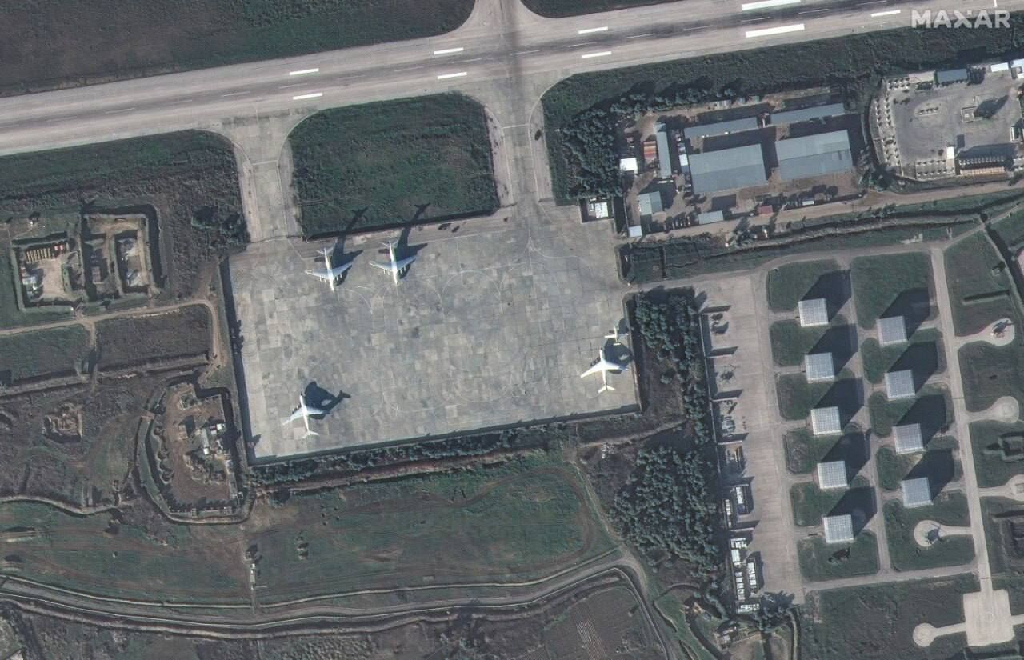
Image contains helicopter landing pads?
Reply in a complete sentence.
Yes, I can see a helicopter landing pad in this picture.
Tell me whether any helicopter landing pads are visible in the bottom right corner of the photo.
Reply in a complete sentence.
Yes, a helicopter landing pad is visible in the bottom right corner of the photo.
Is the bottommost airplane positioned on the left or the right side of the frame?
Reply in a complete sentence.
It is on the left.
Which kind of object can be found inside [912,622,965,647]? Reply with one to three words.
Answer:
helipad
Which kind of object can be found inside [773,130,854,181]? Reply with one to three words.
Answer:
building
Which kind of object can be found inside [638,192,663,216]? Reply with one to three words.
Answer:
shed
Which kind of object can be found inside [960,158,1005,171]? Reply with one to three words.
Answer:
building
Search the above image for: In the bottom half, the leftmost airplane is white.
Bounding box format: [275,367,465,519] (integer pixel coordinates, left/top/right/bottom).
[282,395,330,436]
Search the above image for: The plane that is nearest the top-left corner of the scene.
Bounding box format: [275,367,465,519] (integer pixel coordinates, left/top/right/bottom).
[304,246,352,292]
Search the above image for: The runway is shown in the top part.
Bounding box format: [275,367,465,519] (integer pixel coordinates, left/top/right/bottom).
[0,0,1024,156]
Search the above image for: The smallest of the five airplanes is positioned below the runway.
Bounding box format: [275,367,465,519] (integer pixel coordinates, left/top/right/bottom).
[604,327,628,343]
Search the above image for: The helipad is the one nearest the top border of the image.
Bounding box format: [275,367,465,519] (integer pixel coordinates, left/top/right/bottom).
[957,318,1016,345]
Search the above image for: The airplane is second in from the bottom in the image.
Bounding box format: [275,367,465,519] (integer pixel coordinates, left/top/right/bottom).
[581,349,629,391]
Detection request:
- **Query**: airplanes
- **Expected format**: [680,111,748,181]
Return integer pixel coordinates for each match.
[368,241,416,286]
[581,349,629,391]
[604,327,628,343]
[304,246,352,292]
[282,395,330,436]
